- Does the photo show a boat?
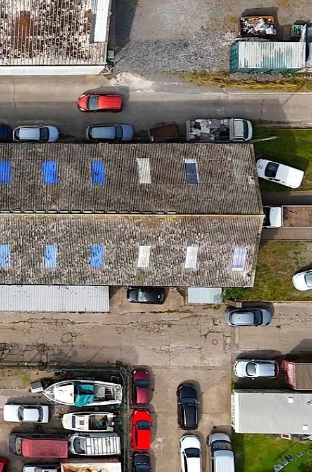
Yes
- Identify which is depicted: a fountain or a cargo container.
cargo container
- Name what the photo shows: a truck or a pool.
truck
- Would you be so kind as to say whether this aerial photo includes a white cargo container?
Yes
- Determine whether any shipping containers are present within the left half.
No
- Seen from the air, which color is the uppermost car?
red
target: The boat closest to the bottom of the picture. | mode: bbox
[63,412,119,431]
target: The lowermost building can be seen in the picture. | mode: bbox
[211,387,312,435]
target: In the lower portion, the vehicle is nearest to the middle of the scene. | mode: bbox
[125,288,165,306]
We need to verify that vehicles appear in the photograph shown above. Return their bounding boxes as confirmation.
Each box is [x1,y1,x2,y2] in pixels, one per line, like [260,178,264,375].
[184,115,251,141]
[257,159,306,191]
[128,367,152,409]
[68,431,125,461]
[224,306,270,328]
[231,358,277,380]
[130,452,153,472]
[262,204,312,230]
[205,432,241,472]
[21,463,58,472]
[177,432,204,472]
[129,409,152,451]
[289,268,312,291]
[75,93,122,114]
[84,120,133,141]
[12,121,59,141]
[0,455,9,472]
[9,431,71,462]
[125,288,165,306]
[175,382,202,430]
[3,403,49,425]
[279,358,312,392]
